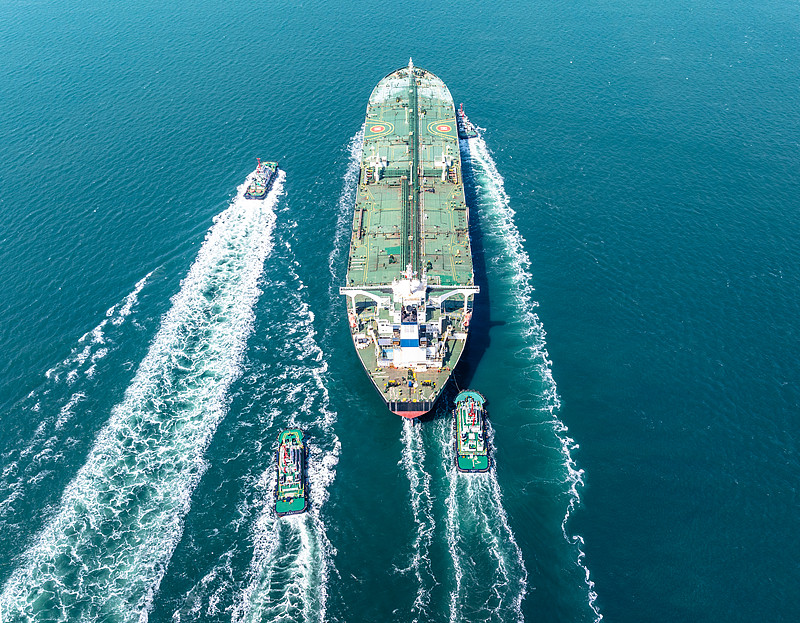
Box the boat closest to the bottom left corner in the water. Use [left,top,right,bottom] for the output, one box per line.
[273,425,309,521]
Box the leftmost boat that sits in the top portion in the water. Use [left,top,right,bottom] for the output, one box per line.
[246,158,278,202]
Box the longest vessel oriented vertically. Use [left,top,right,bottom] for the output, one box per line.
[339,59,483,421]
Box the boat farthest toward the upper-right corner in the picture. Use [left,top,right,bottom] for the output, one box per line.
[455,104,479,139]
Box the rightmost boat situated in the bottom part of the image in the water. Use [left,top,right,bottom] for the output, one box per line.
[453,388,490,474]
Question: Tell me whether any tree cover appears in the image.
No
